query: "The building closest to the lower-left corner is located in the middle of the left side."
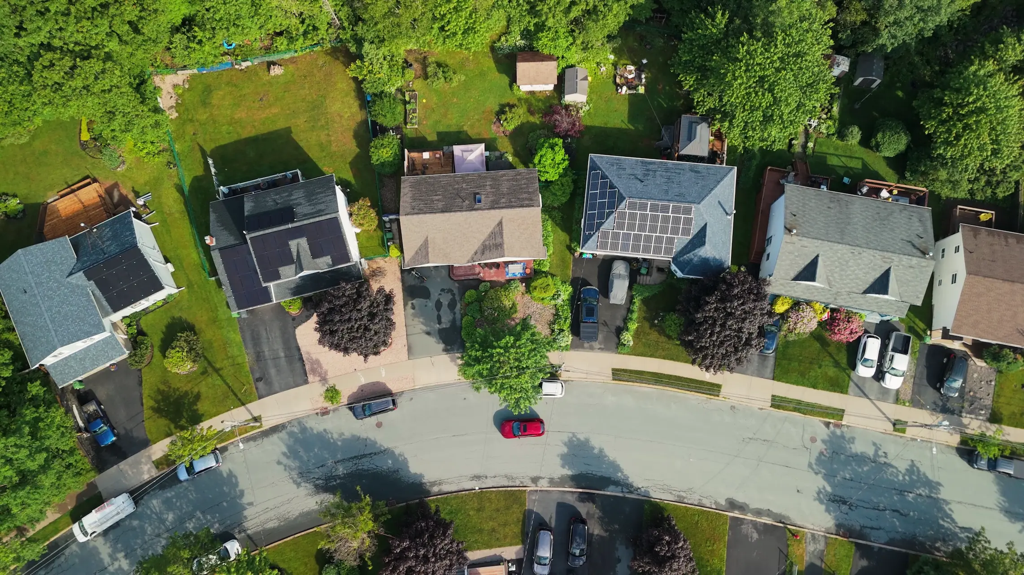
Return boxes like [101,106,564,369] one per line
[0,210,185,386]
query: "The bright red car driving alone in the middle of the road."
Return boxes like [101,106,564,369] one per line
[501,418,545,440]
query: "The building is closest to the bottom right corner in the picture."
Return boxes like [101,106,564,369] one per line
[932,224,1024,352]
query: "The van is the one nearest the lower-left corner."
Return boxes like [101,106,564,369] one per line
[72,494,137,543]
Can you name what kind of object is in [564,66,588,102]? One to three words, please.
shed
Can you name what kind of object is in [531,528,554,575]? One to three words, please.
car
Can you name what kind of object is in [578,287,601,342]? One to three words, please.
truck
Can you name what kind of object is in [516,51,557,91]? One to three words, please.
shed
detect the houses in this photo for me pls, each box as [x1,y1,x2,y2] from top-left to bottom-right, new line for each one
[202,173,368,313]
[579,154,737,282]
[0,210,185,386]
[399,167,547,272]
[759,183,936,321]
[932,224,1024,352]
